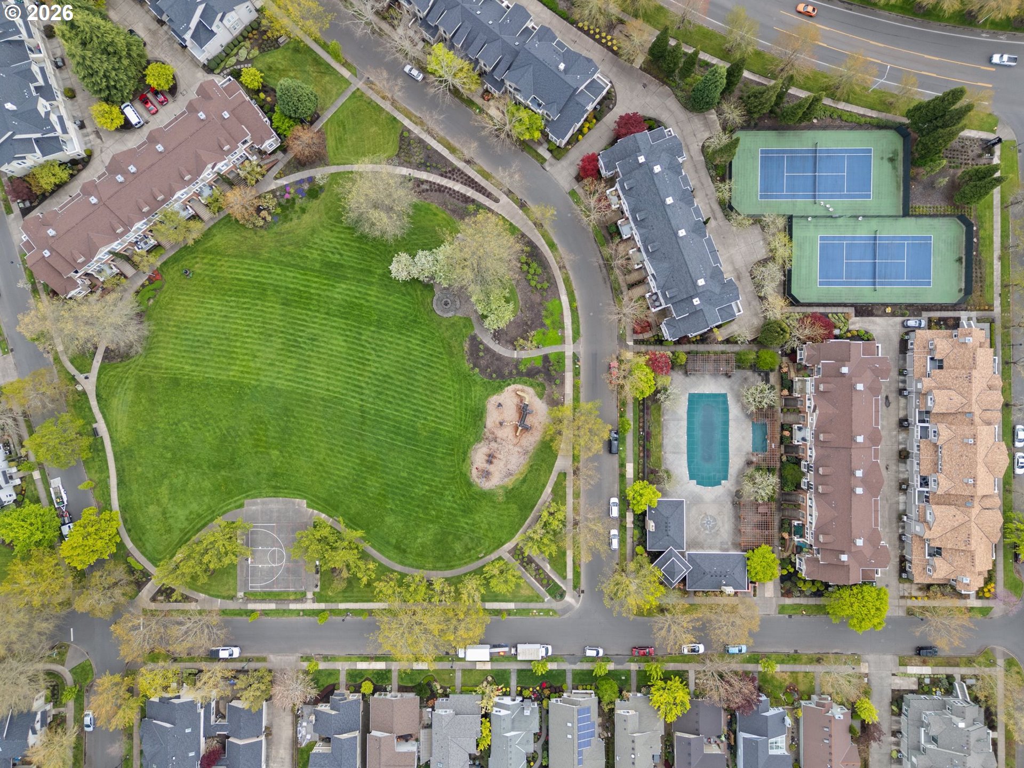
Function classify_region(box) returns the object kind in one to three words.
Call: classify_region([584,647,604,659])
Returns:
vehicle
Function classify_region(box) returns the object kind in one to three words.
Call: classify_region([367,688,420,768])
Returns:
house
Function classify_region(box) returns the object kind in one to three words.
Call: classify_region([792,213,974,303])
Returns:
tennis court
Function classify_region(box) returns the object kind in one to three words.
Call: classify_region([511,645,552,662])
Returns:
vehicle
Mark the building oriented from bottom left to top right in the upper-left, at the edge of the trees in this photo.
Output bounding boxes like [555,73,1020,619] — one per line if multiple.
[18,76,292,302]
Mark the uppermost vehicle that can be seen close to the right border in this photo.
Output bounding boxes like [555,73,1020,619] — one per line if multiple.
[992,51,1020,64]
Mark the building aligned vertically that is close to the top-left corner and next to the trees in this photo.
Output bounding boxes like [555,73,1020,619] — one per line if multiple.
[0,0,86,174]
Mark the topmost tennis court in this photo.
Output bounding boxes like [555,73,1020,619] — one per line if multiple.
[732,125,911,216]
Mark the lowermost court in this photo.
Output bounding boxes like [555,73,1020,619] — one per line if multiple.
[237,498,319,592]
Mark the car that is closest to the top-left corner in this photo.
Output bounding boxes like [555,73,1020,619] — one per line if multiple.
[128,26,145,47]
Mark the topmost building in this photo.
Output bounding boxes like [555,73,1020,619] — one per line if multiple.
[155,0,265,64]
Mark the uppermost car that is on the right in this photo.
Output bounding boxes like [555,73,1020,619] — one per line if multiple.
[796,1,819,15]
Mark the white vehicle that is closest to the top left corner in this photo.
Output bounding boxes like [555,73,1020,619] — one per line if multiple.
[119,101,140,126]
